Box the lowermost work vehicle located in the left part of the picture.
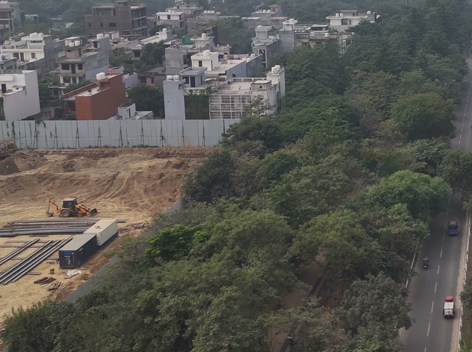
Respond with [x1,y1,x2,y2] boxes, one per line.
[48,197,100,218]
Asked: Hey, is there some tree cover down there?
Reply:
Yes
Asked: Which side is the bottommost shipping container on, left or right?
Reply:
left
